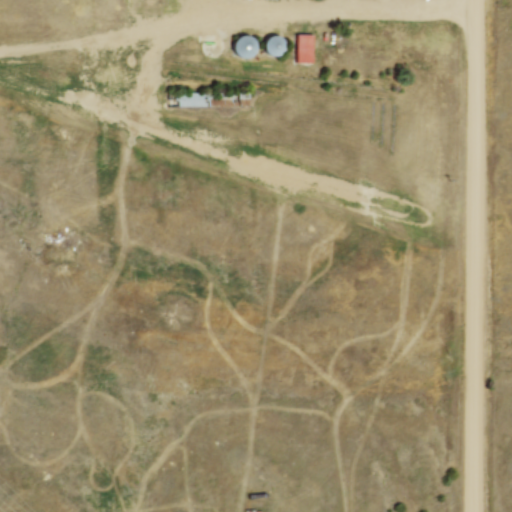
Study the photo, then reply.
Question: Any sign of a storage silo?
Yes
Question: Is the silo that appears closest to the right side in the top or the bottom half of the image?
top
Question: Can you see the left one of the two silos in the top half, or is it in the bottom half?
top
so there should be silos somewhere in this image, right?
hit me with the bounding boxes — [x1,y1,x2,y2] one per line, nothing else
[234,36,259,59]
[264,35,288,58]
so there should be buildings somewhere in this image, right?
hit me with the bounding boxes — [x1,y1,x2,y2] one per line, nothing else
[212,94,253,106]
[297,34,314,64]
[178,94,210,107]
